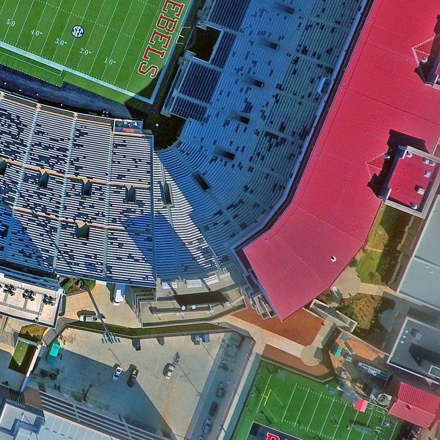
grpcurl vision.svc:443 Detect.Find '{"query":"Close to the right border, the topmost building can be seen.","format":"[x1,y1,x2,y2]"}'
[375,181,440,311]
